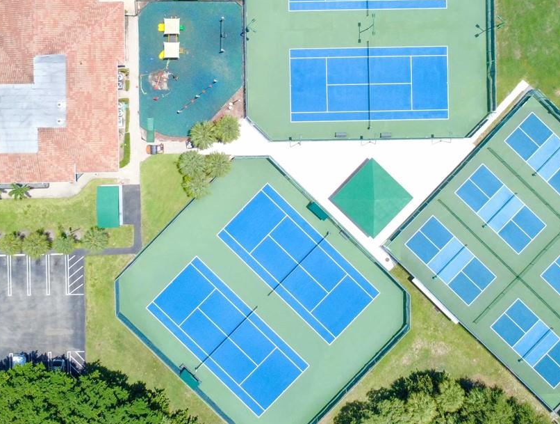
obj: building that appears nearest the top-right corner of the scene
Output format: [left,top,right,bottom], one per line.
[332,158,413,239]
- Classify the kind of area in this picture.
sports ground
